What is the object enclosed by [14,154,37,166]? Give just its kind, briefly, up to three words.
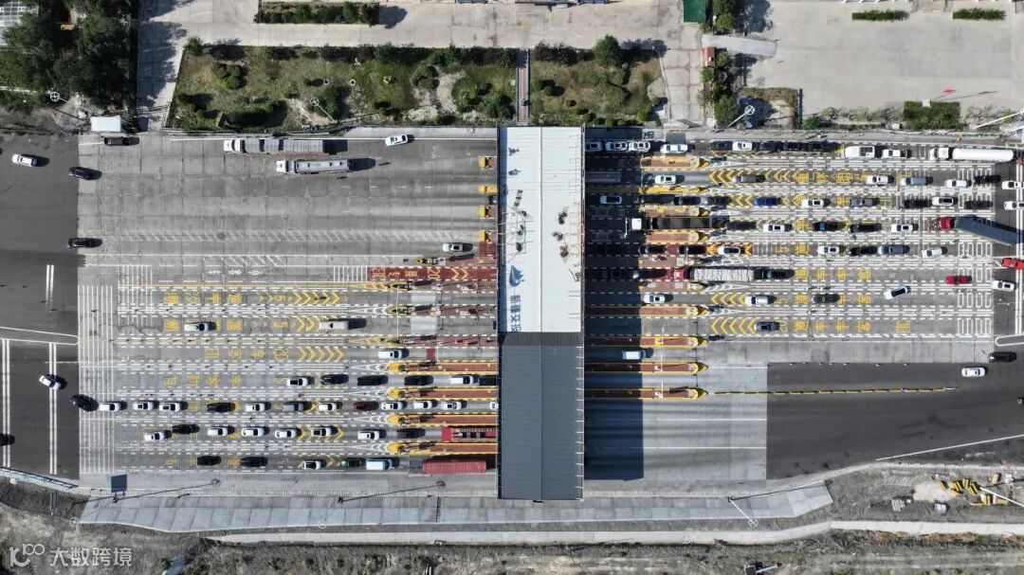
vehicle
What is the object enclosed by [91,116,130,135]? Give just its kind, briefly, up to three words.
shed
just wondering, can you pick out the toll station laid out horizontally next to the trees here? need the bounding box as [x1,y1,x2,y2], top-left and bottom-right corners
[79,125,994,501]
